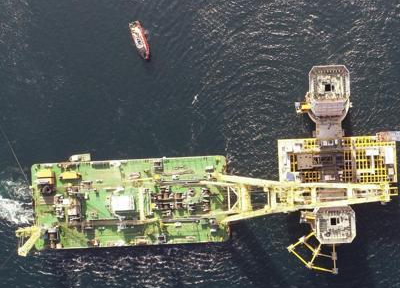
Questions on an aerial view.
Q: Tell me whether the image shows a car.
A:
No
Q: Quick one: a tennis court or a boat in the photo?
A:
boat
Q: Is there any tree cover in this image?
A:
No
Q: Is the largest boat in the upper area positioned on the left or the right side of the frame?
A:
left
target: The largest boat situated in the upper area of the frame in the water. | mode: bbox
[125,20,150,59]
